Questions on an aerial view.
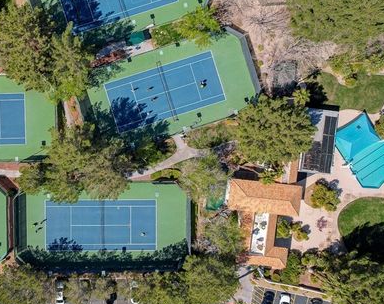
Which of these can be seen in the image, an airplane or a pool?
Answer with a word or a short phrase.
pool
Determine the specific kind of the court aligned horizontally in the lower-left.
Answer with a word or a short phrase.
tennis court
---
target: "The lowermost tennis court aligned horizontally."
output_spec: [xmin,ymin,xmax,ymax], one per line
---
[14,181,190,263]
